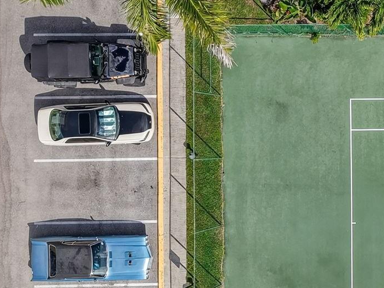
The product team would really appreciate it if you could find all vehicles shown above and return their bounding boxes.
[22,38,146,86]
[35,95,156,150]
[30,233,158,286]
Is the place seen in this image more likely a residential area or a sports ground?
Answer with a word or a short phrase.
sports ground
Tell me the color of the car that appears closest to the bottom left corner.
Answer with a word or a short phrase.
blue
